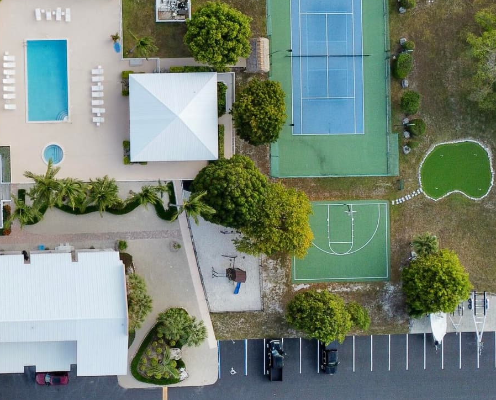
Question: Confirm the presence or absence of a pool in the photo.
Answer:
Yes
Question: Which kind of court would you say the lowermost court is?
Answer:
basketball court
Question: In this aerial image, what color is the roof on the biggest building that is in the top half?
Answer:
white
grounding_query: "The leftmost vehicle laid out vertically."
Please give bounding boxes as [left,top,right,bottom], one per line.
[267,339,285,380]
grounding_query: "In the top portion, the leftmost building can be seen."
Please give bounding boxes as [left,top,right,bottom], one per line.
[128,72,218,161]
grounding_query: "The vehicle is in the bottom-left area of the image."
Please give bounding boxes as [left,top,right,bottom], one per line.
[35,371,68,387]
